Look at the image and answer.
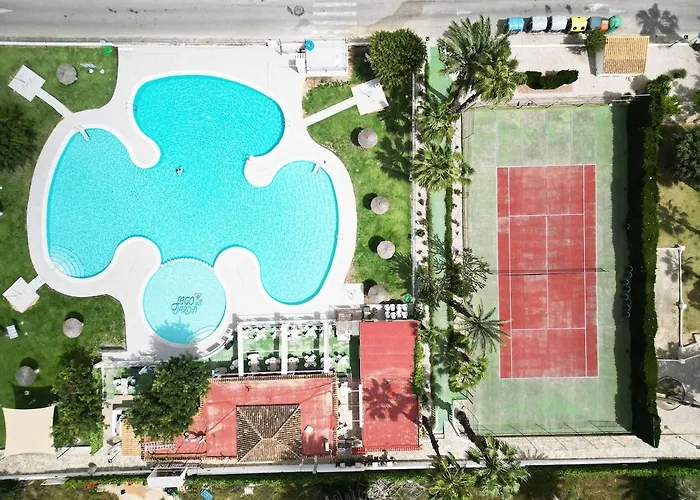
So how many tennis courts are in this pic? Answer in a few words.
one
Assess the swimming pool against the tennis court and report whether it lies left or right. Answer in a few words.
left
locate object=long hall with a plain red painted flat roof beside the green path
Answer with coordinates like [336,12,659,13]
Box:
[360,319,421,453]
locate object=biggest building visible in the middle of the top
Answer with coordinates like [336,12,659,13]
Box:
[306,36,349,76]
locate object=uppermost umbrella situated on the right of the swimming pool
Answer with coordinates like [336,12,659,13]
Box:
[356,129,377,150]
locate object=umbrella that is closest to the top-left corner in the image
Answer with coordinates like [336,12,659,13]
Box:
[59,64,83,88]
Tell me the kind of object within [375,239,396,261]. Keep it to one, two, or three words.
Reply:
umbrella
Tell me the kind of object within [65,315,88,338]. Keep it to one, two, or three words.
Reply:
umbrella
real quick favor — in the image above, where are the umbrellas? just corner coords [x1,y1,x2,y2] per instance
[364,281,389,306]
[368,194,390,216]
[65,315,88,338]
[18,363,43,386]
[375,239,396,261]
[59,64,83,88]
[356,129,377,150]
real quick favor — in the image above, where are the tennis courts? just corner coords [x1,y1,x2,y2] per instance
[465,101,638,435]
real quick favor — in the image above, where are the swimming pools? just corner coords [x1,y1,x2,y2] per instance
[42,70,342,349]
